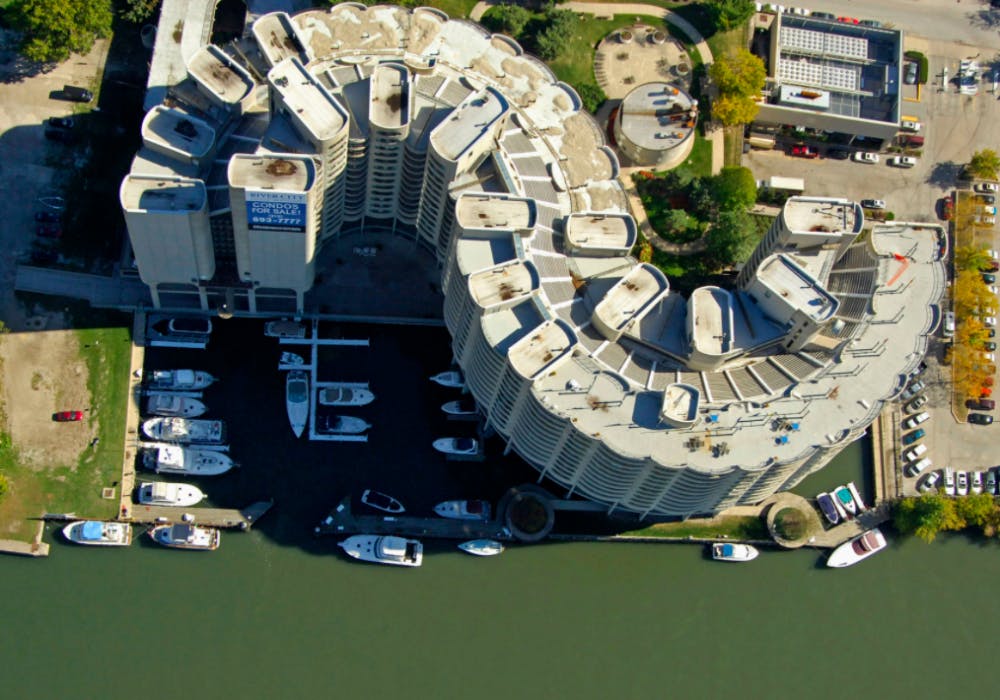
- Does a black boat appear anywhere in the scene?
Yes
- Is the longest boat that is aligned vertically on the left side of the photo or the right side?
left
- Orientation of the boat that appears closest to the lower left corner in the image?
from left to right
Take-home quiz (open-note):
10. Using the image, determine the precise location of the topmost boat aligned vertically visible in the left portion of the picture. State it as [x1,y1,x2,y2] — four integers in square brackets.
[286,370,309,437]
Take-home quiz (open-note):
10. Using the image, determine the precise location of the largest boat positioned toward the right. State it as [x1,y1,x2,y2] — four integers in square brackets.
[827,525,893,566]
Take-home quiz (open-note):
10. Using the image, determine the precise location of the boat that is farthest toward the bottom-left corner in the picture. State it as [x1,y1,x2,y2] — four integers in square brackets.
[62,517,133,545]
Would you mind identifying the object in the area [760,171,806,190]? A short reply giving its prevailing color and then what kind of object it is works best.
white vehicle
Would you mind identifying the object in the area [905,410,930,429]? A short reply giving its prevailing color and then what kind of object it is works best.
white car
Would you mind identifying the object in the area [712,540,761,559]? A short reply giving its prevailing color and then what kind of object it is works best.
white boat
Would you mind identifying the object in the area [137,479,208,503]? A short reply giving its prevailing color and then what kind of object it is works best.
white boat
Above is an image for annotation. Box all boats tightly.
[62,517,133,545]
[279,351,305,363]
[359,487,404,512]
[816,491,838,523]
[458,539,504,555]
[139,441,237,474]
[318,386,377,404]
[142,414,224,441]
[286,370,309,437]
[712,540,761,559]
[831,483,857,515]
[441,399,481,415]
[146,393,209,413]
[336,532,425,565]
[429,370,463,387]
[137,479,208,503]
[146,368,220,388]
[146,521,223,549]
[434,500,491,519]
[317,415,373,432]
[432,435,479,455]
[827,525,893,566]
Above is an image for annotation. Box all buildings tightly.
[121,0,951,520]
[747,13,902,150]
